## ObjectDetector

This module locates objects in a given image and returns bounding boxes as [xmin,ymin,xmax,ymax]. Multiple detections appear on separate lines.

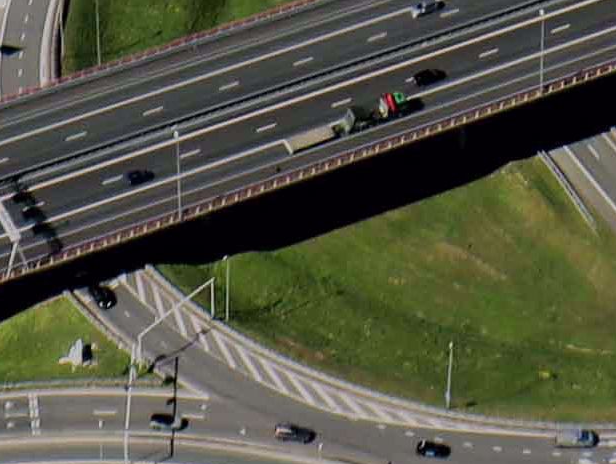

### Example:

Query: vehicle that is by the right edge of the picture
[555,429,595,449]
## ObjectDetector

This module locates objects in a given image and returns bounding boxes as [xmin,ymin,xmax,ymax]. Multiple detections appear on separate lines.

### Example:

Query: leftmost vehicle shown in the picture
[88,285,114,309]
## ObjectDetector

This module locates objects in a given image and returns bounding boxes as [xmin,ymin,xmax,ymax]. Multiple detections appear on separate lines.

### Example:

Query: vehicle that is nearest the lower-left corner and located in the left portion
[149,415,180,431]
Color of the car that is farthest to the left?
black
